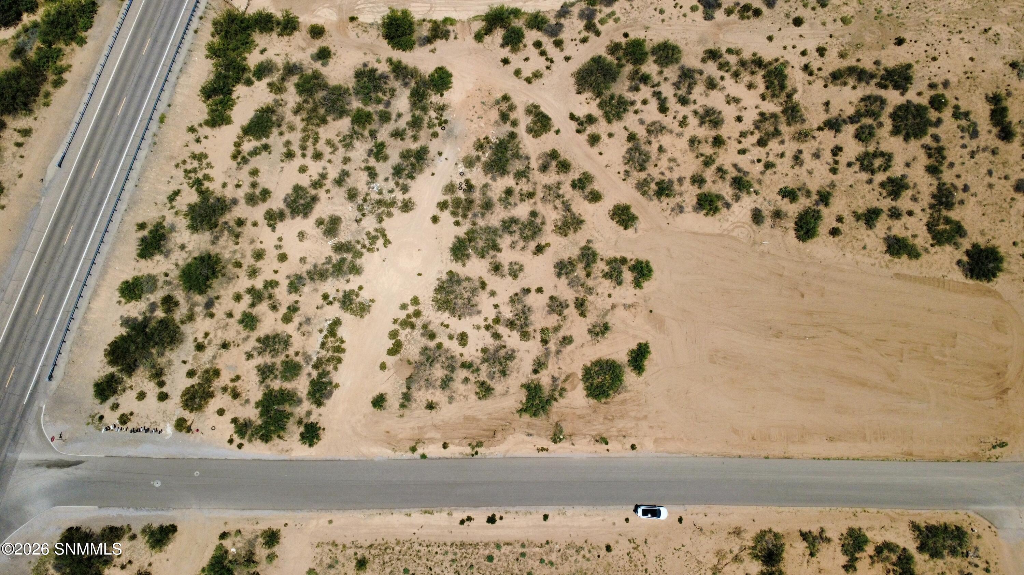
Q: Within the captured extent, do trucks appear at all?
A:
No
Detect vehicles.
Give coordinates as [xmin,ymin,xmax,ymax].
[635,505,667,521]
